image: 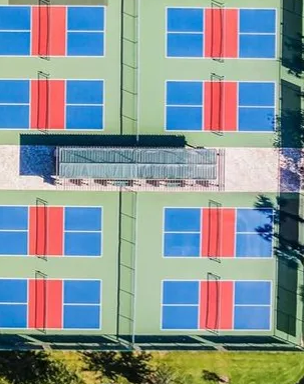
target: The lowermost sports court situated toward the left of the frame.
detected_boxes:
[0,278,102,330]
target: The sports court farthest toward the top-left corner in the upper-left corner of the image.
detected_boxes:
[0,5,106,58]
